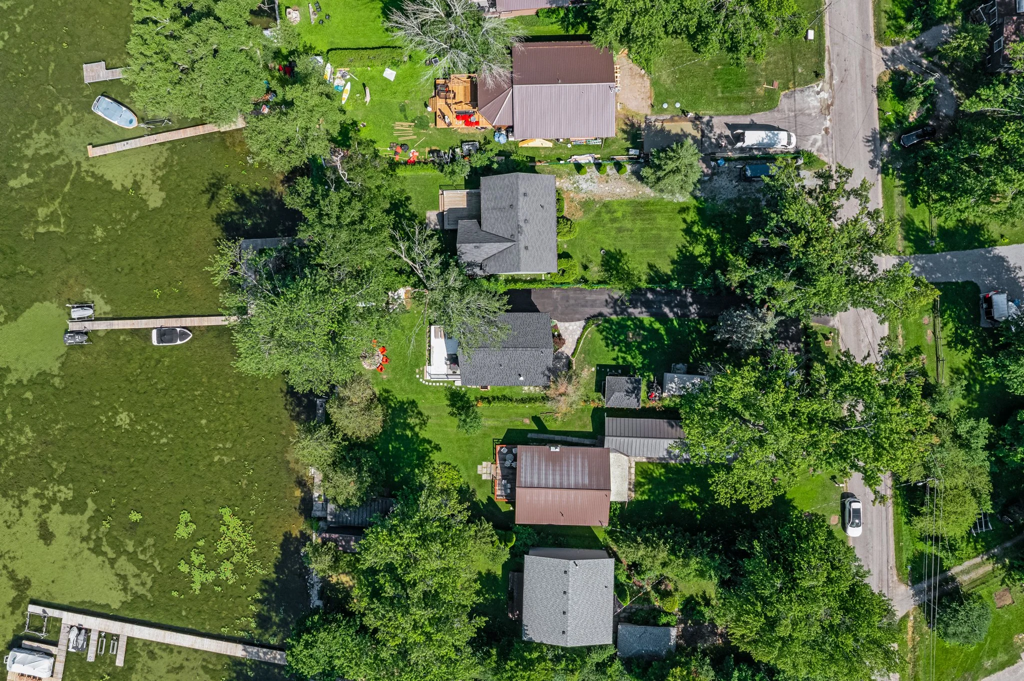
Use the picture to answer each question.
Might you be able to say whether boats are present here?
Yes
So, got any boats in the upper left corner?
Yes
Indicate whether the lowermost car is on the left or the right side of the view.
right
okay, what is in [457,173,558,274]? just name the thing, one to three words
house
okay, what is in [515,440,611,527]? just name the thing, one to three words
house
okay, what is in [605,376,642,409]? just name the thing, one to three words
shed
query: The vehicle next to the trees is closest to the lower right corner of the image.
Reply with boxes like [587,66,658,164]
[840,496,865,537]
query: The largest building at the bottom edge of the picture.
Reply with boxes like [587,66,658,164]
[521,549,615,647]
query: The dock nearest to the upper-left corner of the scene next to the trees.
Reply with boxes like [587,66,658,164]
[83,61,146,83]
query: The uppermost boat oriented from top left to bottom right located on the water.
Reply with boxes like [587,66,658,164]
[87,90,136,127]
